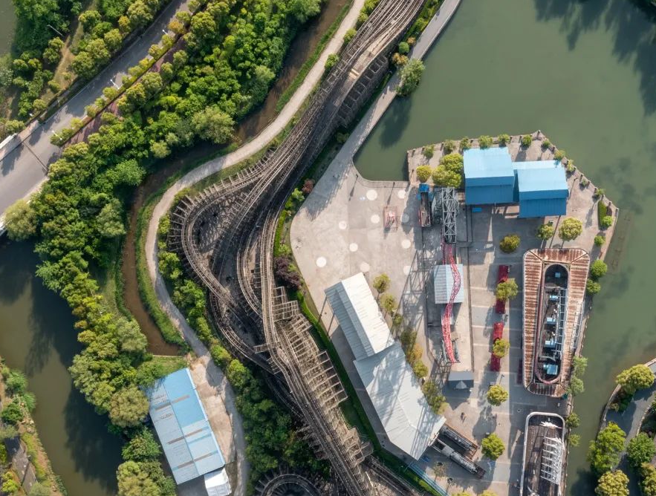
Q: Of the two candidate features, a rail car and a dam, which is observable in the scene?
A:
rail car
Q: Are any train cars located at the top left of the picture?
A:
No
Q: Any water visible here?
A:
Yes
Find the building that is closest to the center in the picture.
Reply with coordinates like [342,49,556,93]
[324,273,394,361]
